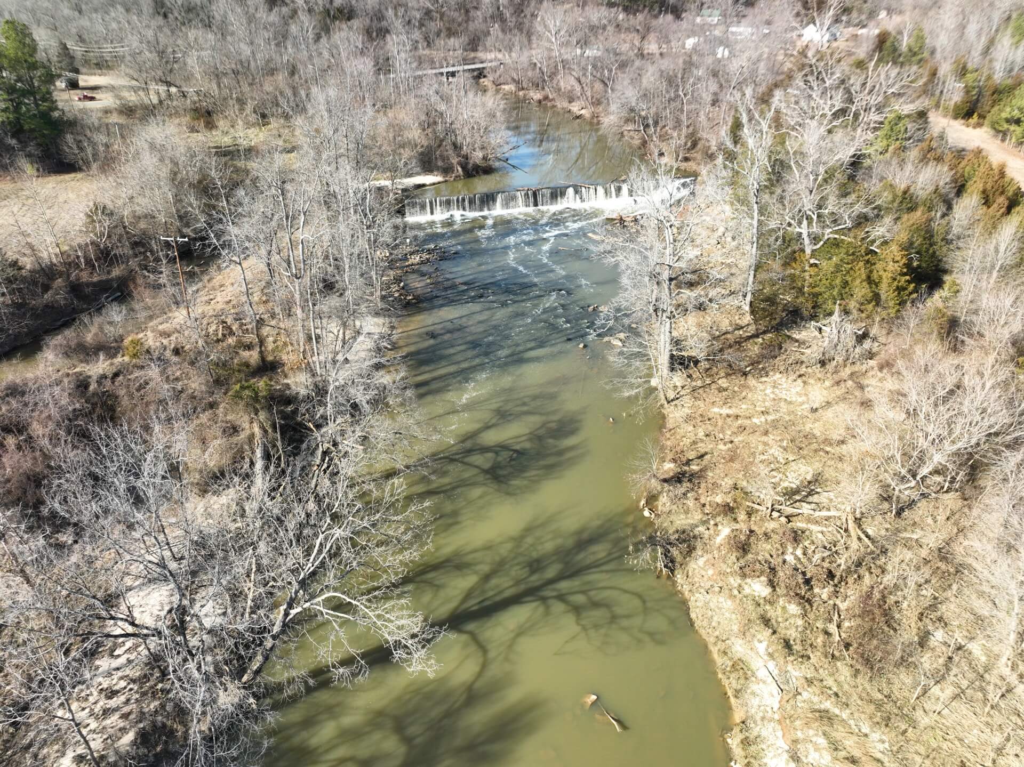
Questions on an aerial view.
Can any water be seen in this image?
Yes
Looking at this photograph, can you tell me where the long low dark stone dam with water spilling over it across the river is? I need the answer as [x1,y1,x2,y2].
[355,183,647,220]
